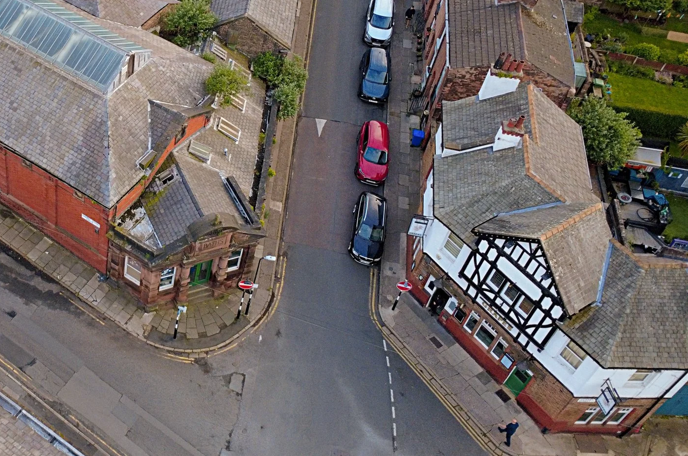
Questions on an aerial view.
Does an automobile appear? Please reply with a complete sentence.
Yes, the frame does contain an automobile.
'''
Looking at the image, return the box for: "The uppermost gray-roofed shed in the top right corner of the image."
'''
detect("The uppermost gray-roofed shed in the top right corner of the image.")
[563,2,583,44]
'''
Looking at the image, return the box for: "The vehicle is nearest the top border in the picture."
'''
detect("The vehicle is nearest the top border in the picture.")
[363,0,397,45]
